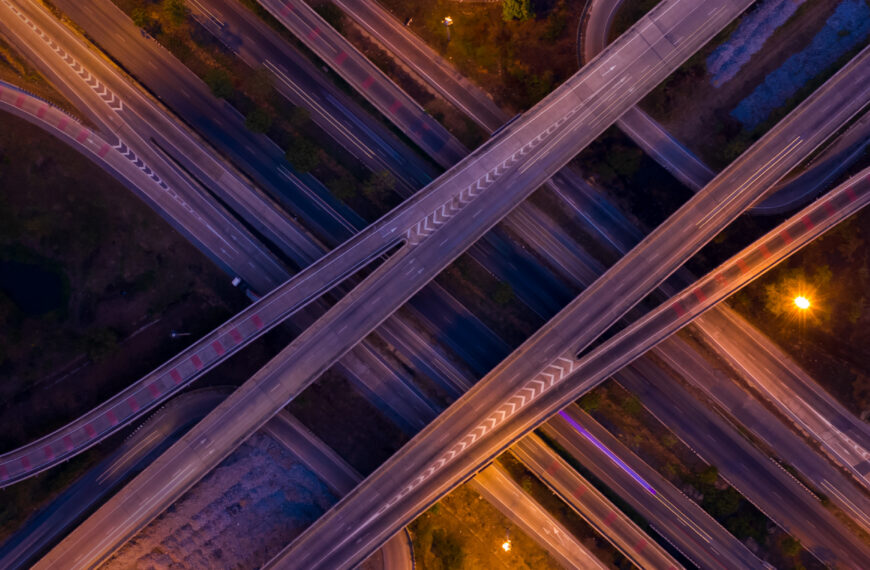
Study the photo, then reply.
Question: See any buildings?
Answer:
No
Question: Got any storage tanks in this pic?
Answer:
No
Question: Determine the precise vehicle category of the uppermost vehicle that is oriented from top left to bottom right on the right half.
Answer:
truck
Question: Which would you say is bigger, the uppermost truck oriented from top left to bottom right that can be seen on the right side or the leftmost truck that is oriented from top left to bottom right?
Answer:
the uppermost truck oriented from top left to bottom right that can be seen on the right side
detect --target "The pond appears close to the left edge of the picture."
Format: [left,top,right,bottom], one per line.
[0,260,71,316]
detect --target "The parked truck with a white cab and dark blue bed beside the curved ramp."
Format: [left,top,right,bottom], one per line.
[231,278,257,302]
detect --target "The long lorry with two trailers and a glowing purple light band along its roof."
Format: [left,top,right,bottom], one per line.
[565,414,655,493]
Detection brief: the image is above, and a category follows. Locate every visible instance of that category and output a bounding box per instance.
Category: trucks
[231,278,257,302]
[565,414,655,493]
